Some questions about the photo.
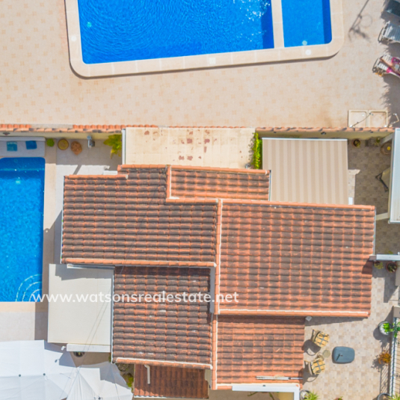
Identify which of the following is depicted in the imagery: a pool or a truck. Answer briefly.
pool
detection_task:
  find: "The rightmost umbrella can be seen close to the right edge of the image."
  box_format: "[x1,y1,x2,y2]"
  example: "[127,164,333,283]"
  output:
[375,171,390,190]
